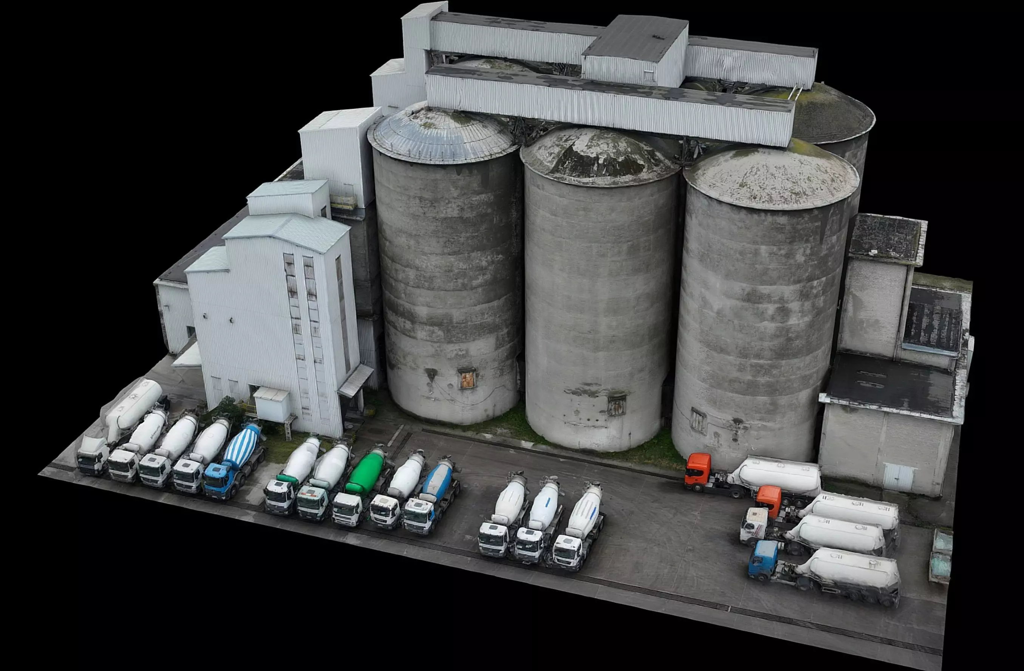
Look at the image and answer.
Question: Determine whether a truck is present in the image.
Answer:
Yes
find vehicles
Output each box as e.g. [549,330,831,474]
[203,421,268,502]
[404,450,460,535]
[370,447,430,532]
[108,406,172,486]
[752,480,897,549]
[332,444,391,528]
[72,382,170,483]
[737,505,887,557]
[552,484,605,574]
[513,476,565,566]
[744,537,900,606]
[296,440,356,524]
[263,434,326,517]
[173,416,235,497]
[140,411,204,491]
[477,471,531,559]
[684,446,823,509]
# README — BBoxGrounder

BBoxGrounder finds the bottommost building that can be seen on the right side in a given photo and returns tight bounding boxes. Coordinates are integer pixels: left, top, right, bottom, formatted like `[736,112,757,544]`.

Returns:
[816,350,970,498]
